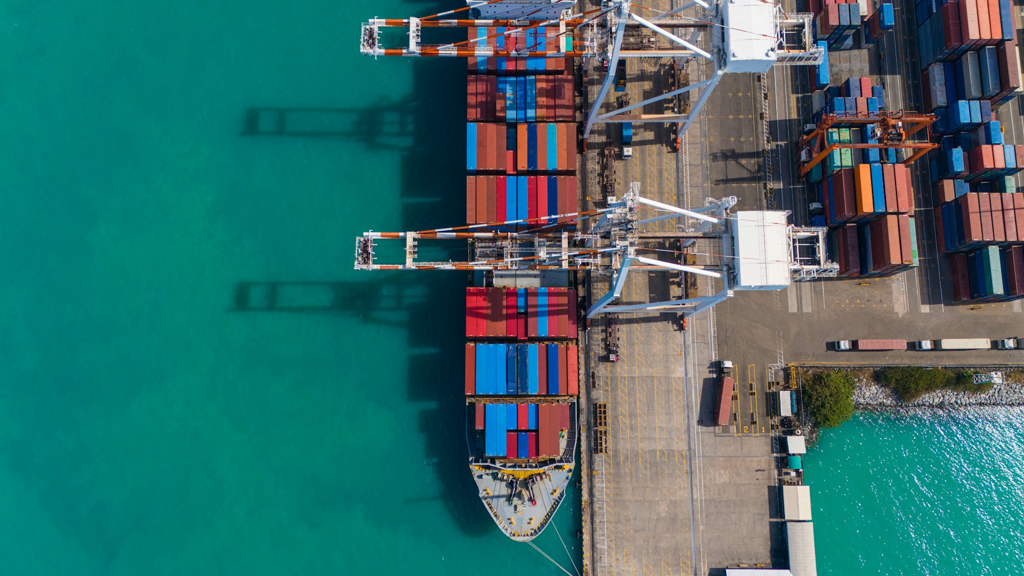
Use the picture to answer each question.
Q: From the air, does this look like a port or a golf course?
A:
port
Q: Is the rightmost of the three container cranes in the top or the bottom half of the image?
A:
top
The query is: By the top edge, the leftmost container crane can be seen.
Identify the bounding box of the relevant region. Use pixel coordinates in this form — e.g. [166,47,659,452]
[360,0,828,148]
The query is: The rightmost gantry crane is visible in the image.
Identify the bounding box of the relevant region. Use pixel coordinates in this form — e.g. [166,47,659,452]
[798,108,943,180]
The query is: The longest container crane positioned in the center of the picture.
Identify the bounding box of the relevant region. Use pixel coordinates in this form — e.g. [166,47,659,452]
[356,180,843,330]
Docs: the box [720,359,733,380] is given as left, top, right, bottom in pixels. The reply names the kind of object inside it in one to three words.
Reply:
vehicle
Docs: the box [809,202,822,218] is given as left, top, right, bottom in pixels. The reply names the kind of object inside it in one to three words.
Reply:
vehicle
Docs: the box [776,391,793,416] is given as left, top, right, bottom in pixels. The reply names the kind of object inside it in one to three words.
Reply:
shed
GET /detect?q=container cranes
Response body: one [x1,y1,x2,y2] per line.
[798,108,943,180]
[360,0,828,148]
[356,180,843,330]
